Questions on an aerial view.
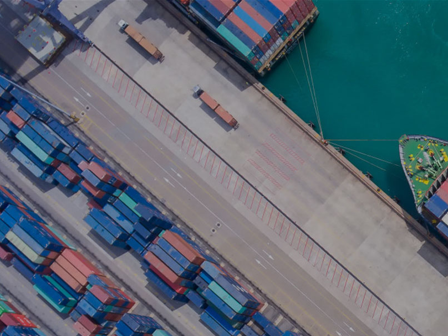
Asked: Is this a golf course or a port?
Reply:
port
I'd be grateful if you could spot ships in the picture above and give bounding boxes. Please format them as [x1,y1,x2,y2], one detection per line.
[398,133,448,241]
[174,0,326,85]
